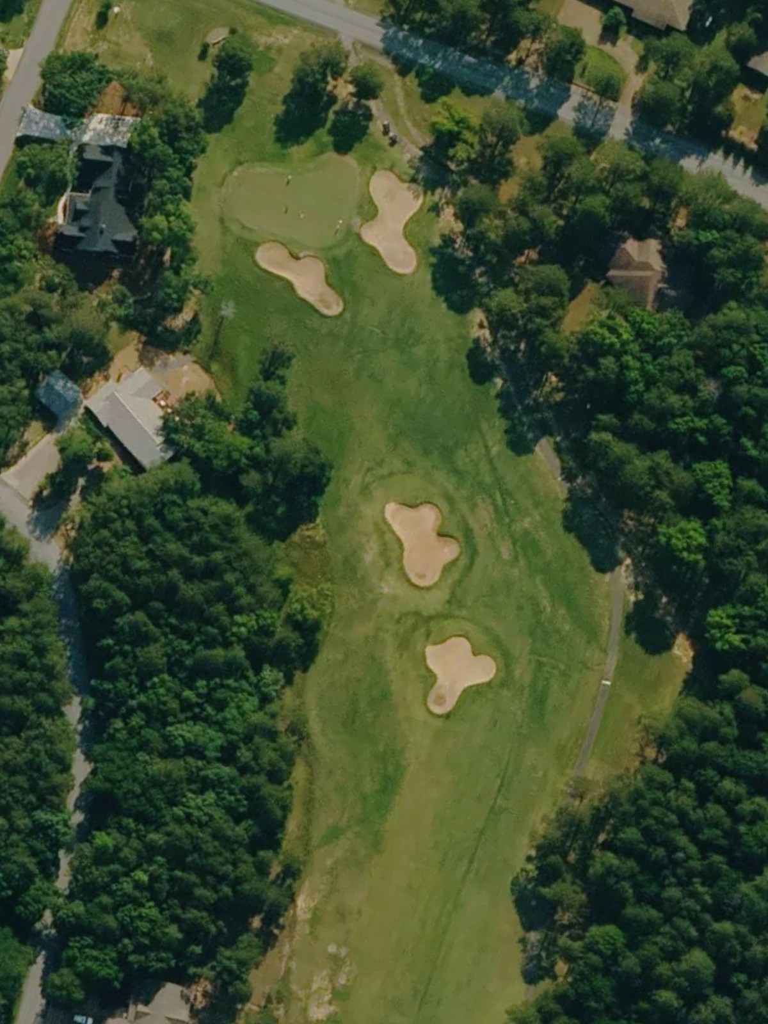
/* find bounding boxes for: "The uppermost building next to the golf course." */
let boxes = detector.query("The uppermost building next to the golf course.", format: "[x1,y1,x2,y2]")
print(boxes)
[56,149,138,259]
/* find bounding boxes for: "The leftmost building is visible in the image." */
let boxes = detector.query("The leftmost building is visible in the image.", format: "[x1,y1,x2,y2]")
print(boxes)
[38,373,81,418]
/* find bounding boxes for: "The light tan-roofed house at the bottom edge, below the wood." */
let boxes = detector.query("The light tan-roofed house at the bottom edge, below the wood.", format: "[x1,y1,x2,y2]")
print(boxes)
[100,977,197,1024]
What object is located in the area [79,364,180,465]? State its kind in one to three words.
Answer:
house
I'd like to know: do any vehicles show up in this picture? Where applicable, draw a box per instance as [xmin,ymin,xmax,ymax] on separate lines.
[383,120,389,130]
[389,132,397,142]
[72,1016,93,1024]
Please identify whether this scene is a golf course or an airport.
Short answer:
golf course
